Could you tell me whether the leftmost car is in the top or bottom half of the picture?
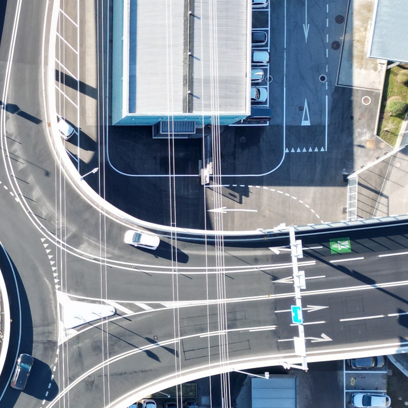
bottom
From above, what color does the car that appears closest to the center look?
white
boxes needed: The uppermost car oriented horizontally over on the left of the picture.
[120,229,161,249]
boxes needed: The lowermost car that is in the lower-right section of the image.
[351,391,389,408]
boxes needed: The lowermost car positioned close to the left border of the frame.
[12,353,33,390]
